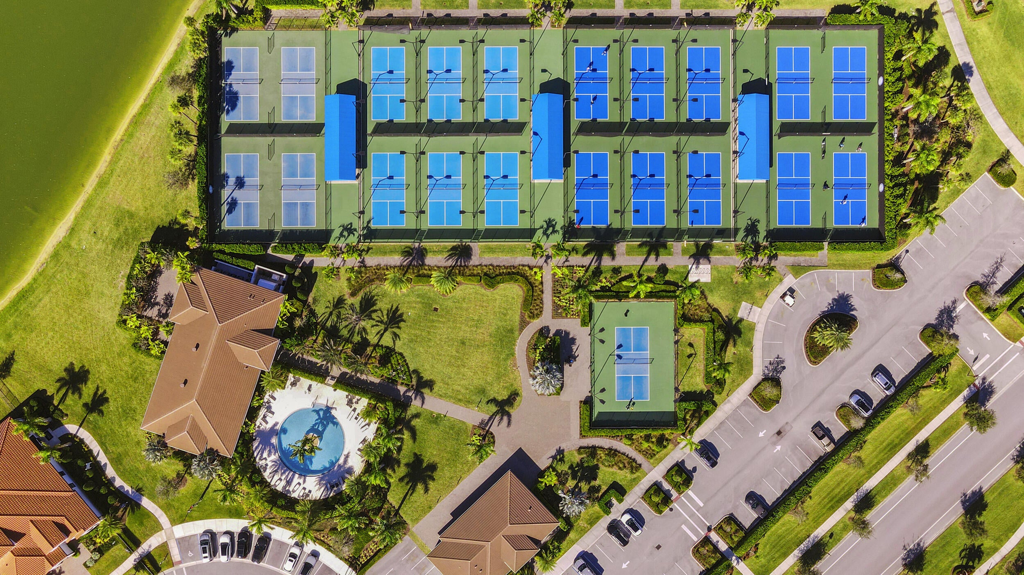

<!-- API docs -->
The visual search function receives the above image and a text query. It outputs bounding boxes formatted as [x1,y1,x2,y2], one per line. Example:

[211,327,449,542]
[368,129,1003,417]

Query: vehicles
[780,288,796,305]
[218,535,232,563]
[301,553,320,575]
[575,555,597,575]
[253,537,270,564]
[745,492,765,516]
[808,423,835,451]
[621,512,642,537]
[849,393,873,418]
[871,368,894,394]
[607,520,629,547]
[199,534,214,562]
[284,546,301,572]
[695,442,718,468]
[236,532,251,560]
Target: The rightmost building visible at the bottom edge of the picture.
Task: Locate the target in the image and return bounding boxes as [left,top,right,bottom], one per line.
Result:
[426,470,560,575]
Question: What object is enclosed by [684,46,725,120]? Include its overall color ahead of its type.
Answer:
blue sports court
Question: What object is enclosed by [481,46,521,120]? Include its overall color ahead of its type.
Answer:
blue sports court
